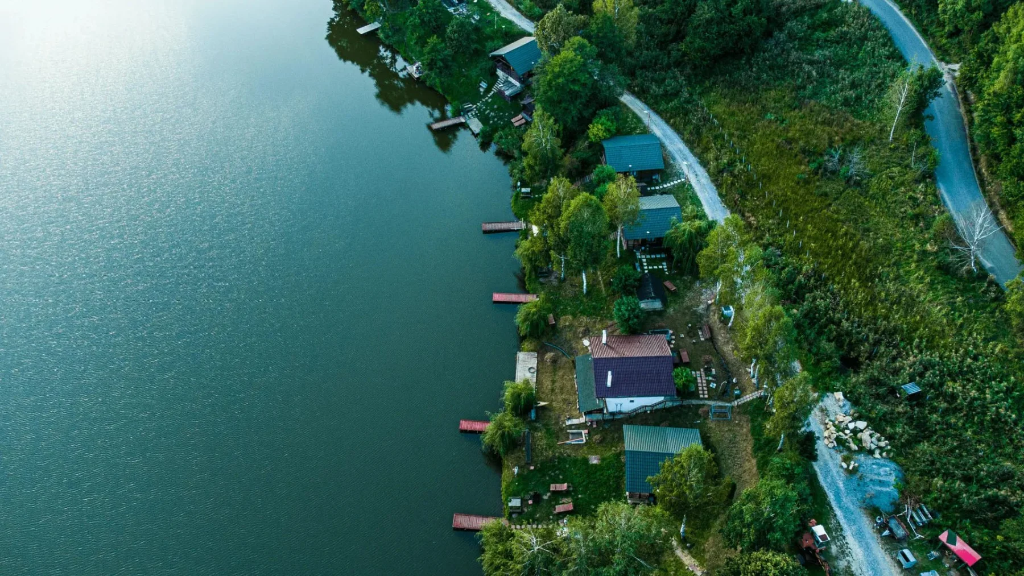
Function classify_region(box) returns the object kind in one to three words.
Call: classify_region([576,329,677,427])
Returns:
house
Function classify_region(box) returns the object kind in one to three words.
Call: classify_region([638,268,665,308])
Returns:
shed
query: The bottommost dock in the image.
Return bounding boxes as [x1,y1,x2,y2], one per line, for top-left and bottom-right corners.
[453,513,509,533]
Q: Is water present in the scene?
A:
Yes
